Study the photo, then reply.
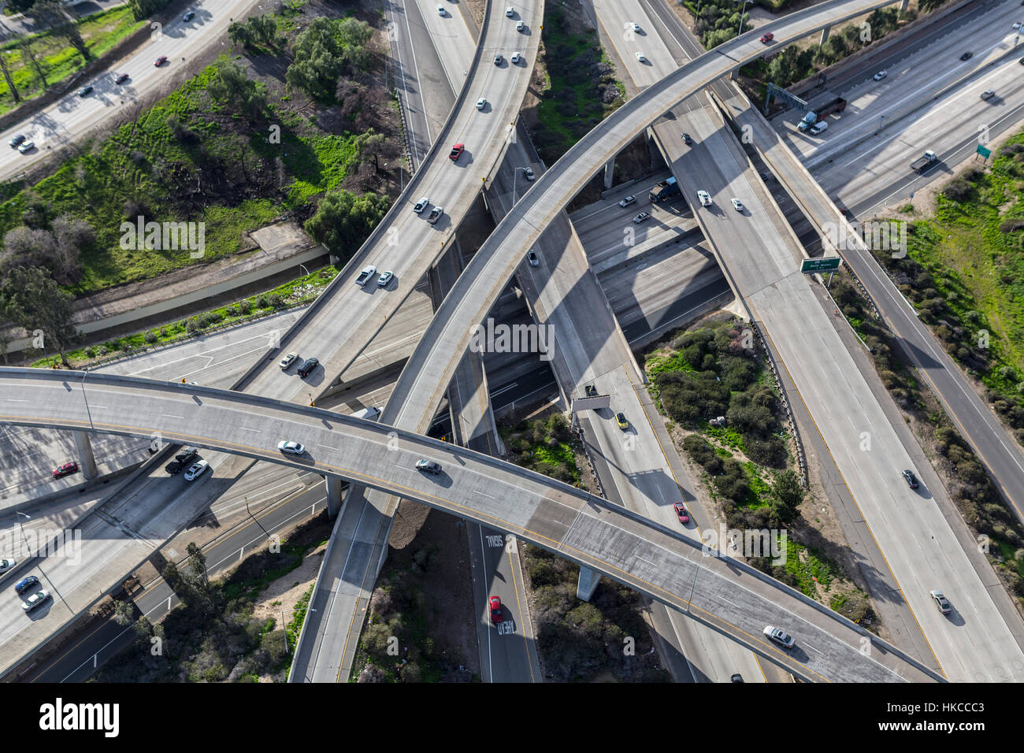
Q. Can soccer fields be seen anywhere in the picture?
No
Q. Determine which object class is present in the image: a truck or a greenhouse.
truck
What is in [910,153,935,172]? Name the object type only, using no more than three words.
vehicle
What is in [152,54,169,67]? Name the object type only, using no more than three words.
vehicle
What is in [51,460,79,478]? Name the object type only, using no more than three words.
car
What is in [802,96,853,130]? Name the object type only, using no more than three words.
truck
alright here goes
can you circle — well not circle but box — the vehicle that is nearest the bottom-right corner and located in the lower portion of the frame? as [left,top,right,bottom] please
[931,590,951,615]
